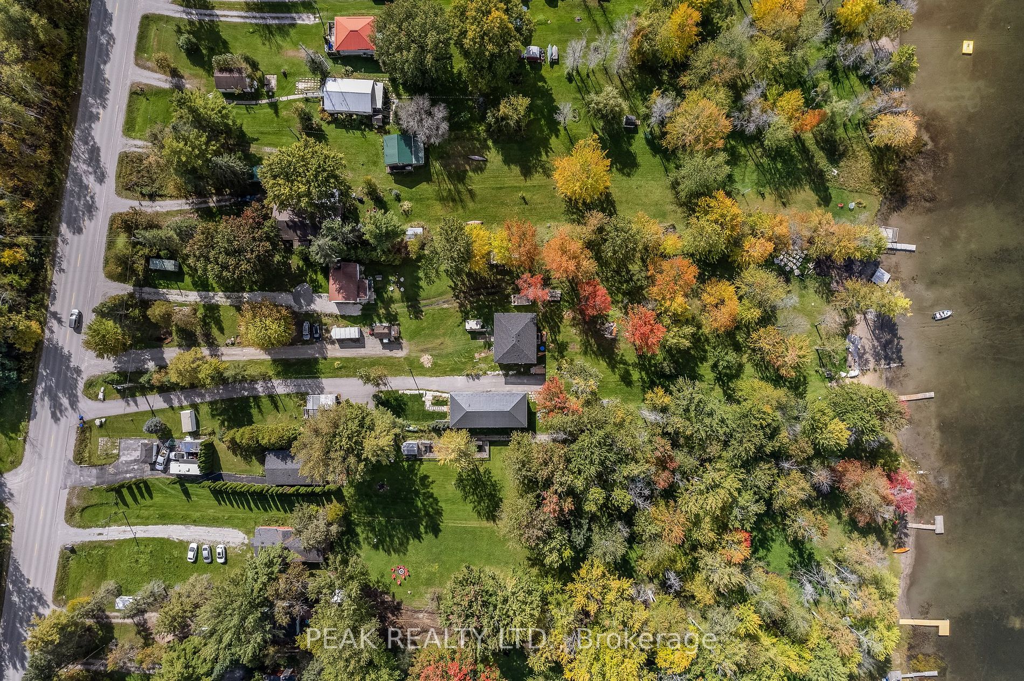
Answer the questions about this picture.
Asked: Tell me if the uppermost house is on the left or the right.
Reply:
left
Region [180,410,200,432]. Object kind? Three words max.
shed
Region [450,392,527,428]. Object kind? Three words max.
house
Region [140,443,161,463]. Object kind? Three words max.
shed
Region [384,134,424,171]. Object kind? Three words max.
building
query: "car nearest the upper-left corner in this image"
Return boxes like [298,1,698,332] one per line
[68,308,81,328]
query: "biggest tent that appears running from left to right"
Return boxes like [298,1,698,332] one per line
[331,327,362,339]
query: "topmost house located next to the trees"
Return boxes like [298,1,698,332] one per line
[327,16,377,55]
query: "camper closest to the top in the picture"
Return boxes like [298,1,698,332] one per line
[522,46,541,60]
